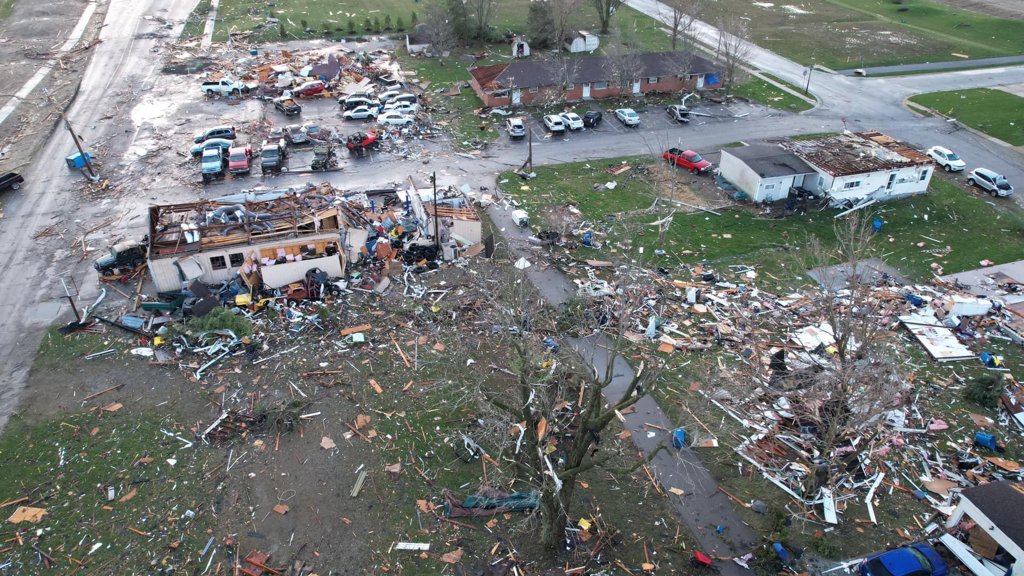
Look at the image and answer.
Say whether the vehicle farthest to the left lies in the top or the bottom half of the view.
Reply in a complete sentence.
The vehicle farthest to the left sits in the top half of the picture.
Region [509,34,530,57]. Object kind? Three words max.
shed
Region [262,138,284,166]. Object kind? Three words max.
truck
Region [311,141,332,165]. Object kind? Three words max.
car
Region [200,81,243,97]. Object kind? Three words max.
vehicle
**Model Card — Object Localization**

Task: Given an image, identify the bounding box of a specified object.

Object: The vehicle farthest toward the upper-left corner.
[0,171,30,191]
